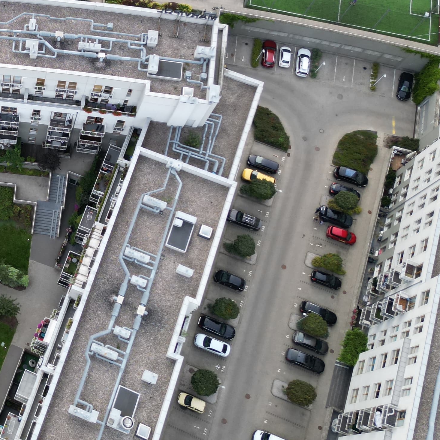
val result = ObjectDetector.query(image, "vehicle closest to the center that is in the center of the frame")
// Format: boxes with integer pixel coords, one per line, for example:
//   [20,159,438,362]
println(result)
[227,209,263,231]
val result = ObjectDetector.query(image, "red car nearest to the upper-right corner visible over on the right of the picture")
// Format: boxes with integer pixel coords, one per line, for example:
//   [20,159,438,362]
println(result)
[261,41,278,69]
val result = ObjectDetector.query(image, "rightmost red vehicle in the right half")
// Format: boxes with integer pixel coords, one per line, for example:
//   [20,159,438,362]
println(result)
[325,226,357,246]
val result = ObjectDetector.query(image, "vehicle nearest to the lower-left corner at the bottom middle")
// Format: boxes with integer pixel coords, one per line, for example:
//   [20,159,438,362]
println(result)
[176,393,208,415]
